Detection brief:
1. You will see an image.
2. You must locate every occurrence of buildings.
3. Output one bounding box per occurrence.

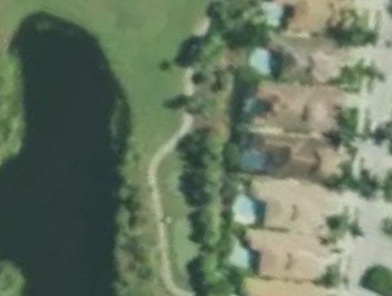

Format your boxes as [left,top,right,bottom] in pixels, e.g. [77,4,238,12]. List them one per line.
[246,176,335,234]
[244,278,334,296]
[267,35,352,85]
[243,229,331,280]
[274,0,354,38]
[251,132,345,179]
[255,83,349,134]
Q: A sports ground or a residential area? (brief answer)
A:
residential area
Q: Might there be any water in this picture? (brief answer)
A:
Yes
